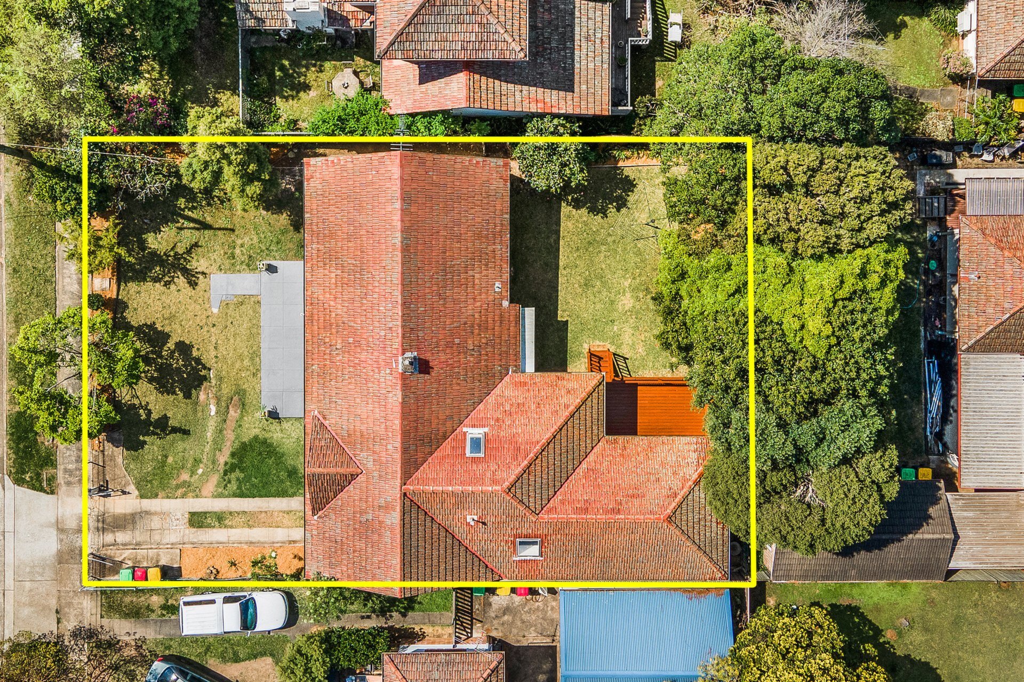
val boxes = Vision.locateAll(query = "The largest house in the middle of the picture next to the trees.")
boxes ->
[301,150,731,598]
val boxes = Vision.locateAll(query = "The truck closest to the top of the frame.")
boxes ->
[177,591,289,640]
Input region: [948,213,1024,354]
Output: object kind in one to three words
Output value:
house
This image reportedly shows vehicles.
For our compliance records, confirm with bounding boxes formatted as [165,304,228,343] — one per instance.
[140,655,227,682]
[177,591,289,640]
